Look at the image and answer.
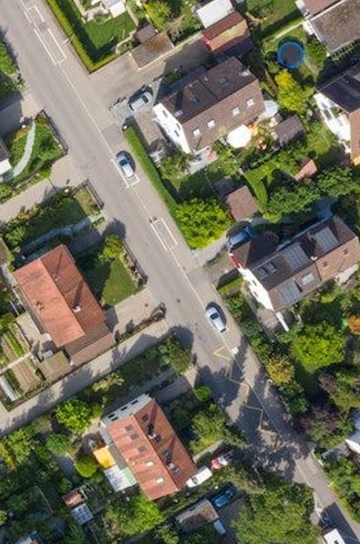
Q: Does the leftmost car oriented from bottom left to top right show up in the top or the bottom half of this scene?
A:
top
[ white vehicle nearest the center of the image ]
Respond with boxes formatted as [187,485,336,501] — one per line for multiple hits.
[203,303,226,333]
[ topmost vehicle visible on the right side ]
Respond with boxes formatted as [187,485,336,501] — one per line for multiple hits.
[225,226,253,249]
